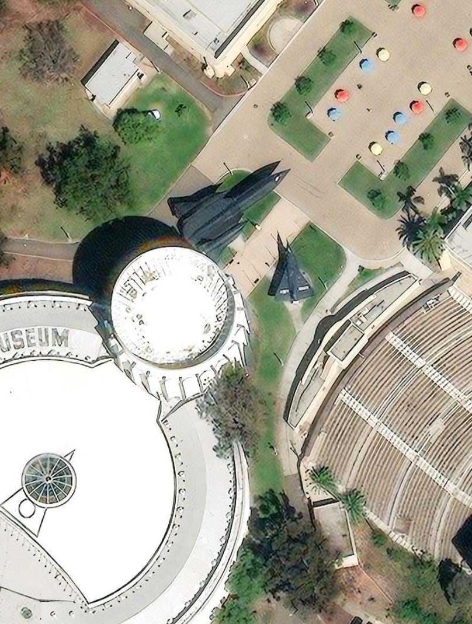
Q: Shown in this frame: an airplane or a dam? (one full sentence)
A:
The one in the frame is an airplane.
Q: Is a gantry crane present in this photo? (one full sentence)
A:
No, the picture doesn't show any gantry crane.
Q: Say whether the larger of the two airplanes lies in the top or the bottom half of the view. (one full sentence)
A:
You can find the larger of the two airplanes in the top half.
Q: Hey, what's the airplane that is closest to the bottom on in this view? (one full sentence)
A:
In this view, the airplane that is closest to the bottom is located on the grass.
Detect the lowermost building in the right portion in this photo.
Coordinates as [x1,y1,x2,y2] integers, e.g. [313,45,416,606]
[286,275,422,444]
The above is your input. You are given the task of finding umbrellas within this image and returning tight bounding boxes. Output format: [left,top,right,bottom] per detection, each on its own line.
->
[411,102,423,114]
[327,107,339,120]
[413,4,425,16]
[377,48,390,61]
[418,82,431,95]
[336,89,348,102]
[393,112,405,125]
[454,38,467,50]
[370,142,383,154]
[388,131,400,143]
[360,59,372,71]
